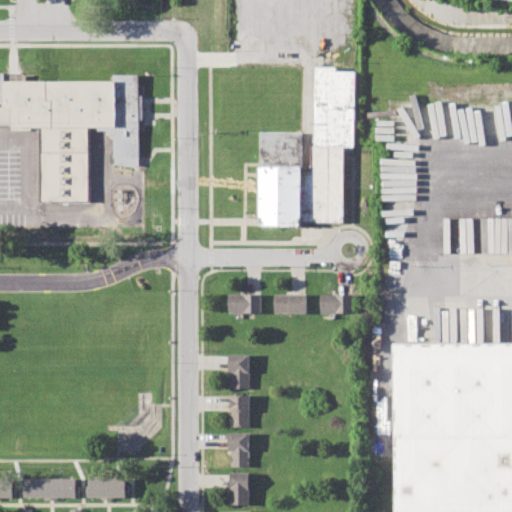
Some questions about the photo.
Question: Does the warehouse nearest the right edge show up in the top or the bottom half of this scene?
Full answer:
The bottom half of the photo is where the warehouse nearest the right edge is.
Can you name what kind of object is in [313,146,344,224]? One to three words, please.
building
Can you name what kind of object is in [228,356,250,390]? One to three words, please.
house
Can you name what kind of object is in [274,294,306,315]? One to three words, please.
house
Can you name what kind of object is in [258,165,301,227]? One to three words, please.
building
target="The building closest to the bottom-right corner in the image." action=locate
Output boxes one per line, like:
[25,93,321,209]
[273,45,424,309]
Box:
[393,344,512,512]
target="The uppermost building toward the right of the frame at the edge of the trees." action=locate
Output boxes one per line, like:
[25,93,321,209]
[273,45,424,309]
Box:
[313,66,356,148]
